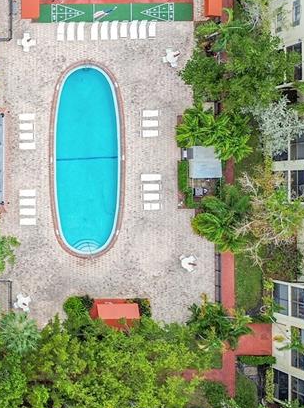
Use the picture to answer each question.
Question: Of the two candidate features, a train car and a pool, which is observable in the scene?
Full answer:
This aerial view contains a pool.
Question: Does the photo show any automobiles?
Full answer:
No, there's no automobile here.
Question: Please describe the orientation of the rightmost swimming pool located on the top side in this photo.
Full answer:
The rightmost swimming pool located on the top side runs from top to bottom in the image.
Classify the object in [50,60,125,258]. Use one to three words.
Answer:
swimming pool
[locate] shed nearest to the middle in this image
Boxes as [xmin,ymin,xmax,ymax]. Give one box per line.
[178,146,222,178]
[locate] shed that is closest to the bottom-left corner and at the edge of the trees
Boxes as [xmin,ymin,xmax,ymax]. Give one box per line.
[89,300,140,331]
